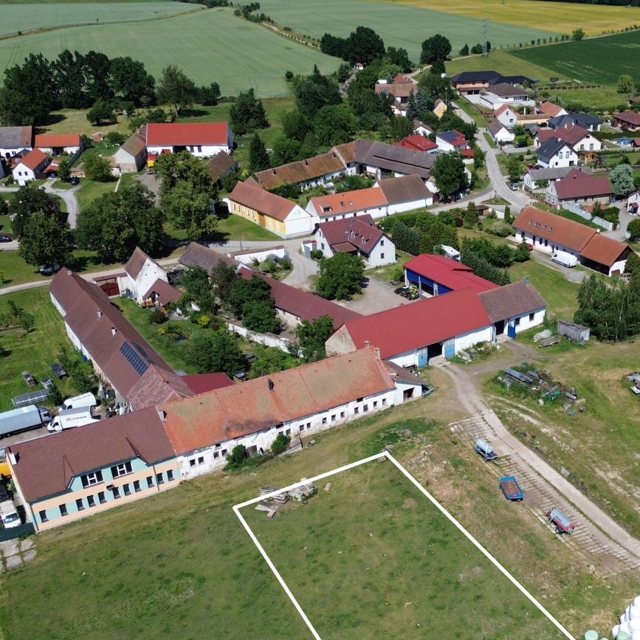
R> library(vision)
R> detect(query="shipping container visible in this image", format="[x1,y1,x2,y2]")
[557,321,593,347]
